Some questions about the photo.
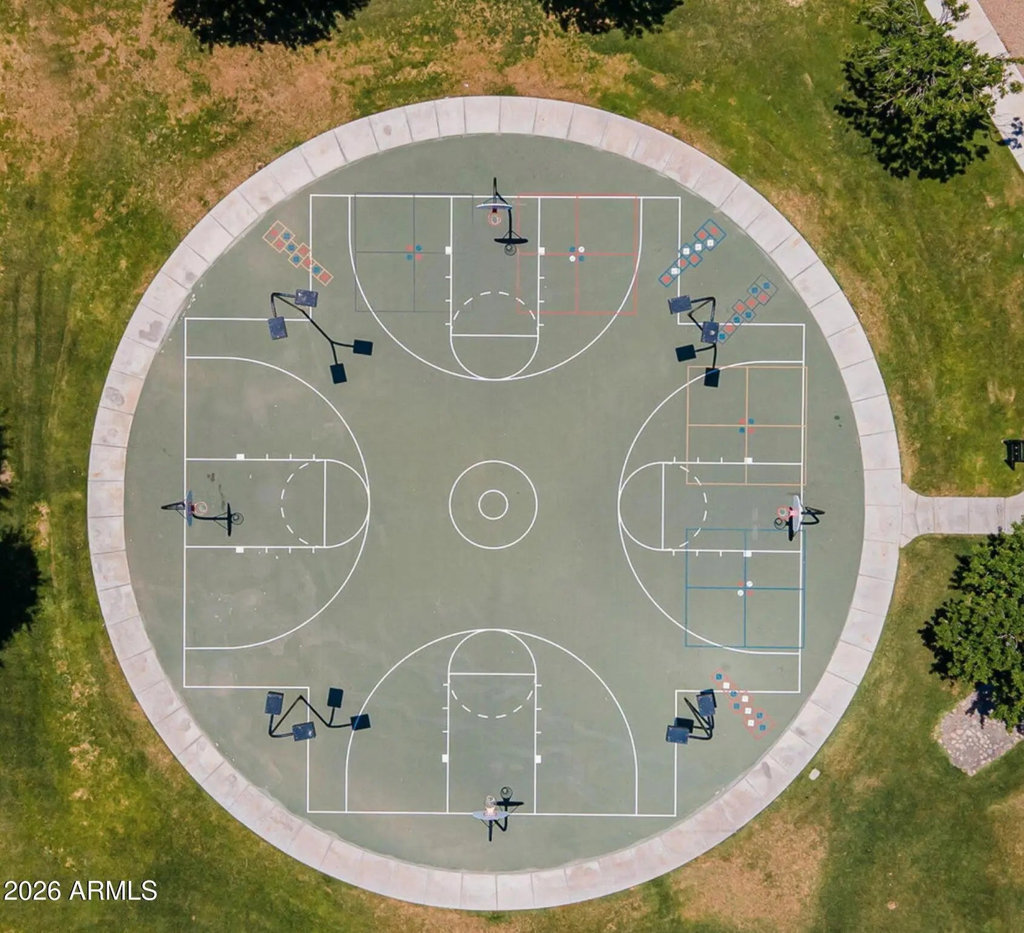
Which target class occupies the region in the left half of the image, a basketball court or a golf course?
basketball court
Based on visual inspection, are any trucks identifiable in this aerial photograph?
No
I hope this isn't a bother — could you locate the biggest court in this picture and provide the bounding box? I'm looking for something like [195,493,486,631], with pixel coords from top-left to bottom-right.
[124,132,865,874]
